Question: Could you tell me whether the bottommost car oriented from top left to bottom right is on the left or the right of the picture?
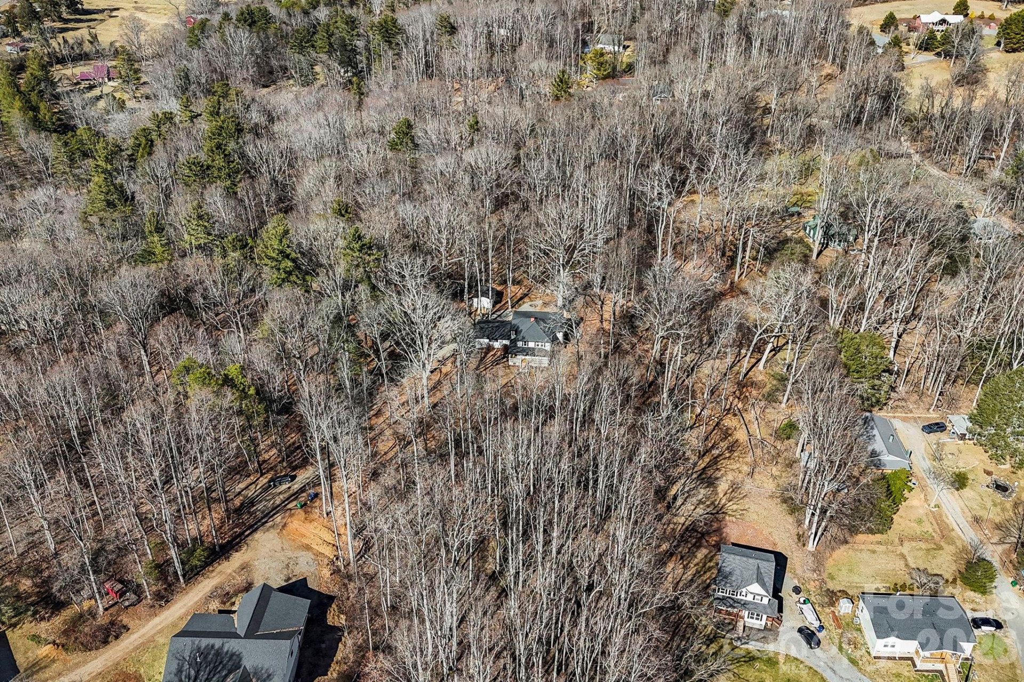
right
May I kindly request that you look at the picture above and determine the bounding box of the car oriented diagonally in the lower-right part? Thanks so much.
[796,623,826,650]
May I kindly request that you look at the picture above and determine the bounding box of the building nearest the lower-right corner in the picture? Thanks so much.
[858,593,976,682]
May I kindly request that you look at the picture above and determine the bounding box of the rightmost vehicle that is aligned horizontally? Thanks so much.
[971,616,1006,632]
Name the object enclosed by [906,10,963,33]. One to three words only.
house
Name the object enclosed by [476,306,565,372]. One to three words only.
house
